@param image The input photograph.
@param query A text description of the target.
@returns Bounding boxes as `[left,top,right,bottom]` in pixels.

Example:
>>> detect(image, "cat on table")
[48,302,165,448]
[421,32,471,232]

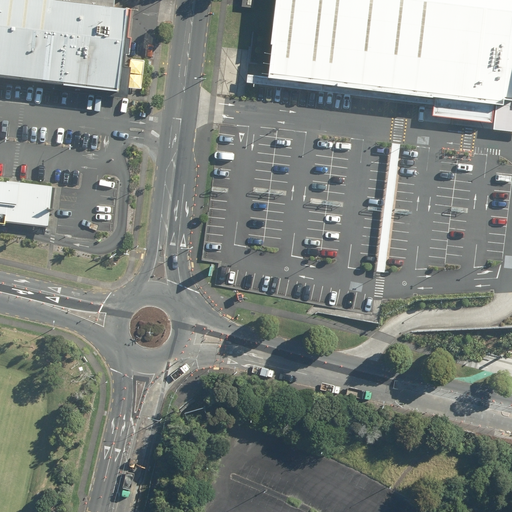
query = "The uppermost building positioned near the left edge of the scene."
[0,0,138,96]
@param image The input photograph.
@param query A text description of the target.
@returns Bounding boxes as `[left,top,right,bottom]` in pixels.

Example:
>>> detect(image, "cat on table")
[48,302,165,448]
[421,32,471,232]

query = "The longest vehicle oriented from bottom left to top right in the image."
[164,362,191,384]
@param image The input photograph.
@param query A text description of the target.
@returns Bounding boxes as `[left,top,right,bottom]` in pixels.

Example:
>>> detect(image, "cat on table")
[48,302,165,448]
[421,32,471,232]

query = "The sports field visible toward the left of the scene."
[0,370,46,512]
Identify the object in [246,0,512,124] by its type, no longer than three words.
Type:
building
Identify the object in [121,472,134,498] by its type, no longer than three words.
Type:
vehicle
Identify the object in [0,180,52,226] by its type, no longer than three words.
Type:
building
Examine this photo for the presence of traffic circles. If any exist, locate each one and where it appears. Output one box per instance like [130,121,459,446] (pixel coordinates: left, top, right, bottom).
[130,306,172,348]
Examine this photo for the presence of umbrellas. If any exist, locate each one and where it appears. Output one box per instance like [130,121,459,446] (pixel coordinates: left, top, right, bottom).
[128,74,143,89]
[130,59,145,74]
